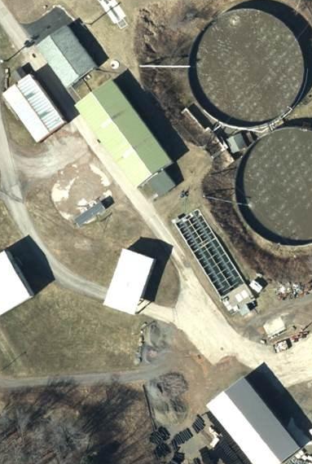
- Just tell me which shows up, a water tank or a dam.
water tank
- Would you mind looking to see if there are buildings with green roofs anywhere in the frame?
Yes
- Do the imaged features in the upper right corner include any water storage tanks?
Yes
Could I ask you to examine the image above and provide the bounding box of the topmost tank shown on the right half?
[188,8,310,128]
